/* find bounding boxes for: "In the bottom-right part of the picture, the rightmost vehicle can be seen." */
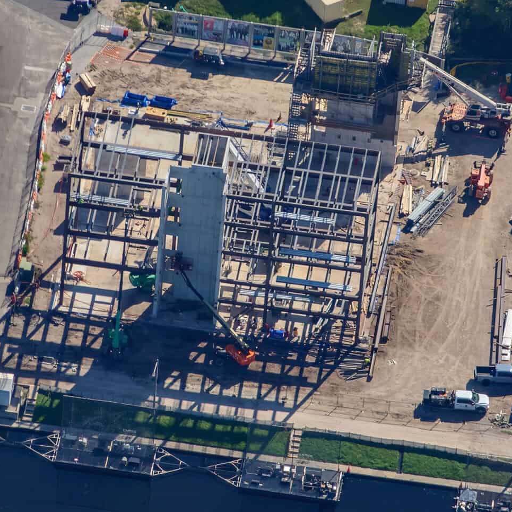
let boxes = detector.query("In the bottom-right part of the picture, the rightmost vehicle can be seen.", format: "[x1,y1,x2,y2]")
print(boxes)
[475,361,512,383]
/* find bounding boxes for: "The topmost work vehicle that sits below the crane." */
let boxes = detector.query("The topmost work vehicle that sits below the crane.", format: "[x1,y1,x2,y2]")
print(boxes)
[468,162,493,200]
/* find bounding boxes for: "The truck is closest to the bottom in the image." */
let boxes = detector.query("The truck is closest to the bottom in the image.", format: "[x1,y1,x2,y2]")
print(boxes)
[425,388,490,418]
